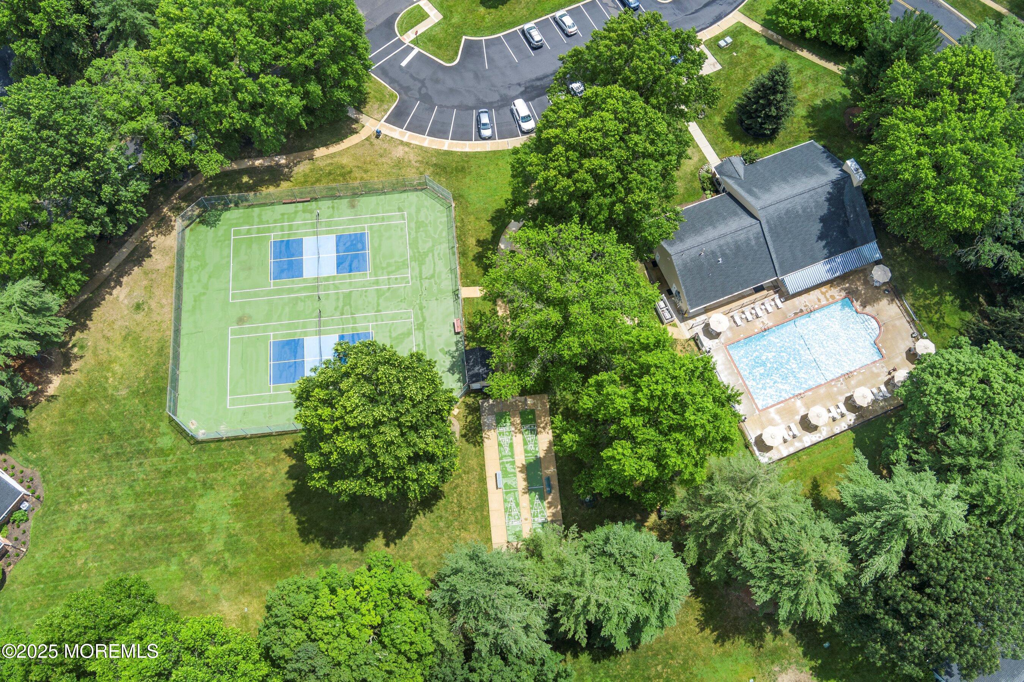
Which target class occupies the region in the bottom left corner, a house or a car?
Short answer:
house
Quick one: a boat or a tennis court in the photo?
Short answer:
tennis court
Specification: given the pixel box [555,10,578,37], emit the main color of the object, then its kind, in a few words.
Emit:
white car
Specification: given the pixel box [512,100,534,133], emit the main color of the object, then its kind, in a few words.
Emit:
white car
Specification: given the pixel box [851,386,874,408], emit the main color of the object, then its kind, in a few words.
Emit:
white umbrella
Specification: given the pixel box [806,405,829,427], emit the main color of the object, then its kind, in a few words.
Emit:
white umbrella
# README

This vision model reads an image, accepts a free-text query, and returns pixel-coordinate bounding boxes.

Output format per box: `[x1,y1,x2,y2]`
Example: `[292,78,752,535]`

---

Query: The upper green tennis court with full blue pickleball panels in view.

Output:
[230,212,410,302]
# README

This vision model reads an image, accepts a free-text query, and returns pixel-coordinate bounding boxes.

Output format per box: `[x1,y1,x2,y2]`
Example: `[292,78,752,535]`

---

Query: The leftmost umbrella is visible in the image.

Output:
[708,313,729,333]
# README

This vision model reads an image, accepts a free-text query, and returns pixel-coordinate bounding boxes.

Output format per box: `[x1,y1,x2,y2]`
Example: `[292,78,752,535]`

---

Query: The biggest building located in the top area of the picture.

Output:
[644,141,877,314]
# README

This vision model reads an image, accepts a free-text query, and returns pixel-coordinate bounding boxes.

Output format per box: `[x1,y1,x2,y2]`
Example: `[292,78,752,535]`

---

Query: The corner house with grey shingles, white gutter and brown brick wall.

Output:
[0,471,47,529]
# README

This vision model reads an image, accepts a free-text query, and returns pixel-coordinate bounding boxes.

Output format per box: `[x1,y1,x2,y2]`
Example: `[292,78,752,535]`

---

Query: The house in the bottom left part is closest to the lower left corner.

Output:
[0,532,38,566]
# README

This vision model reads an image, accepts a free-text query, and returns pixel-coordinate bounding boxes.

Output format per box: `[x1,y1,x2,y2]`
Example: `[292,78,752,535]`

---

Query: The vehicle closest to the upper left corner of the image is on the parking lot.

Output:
[477,109,493,139]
